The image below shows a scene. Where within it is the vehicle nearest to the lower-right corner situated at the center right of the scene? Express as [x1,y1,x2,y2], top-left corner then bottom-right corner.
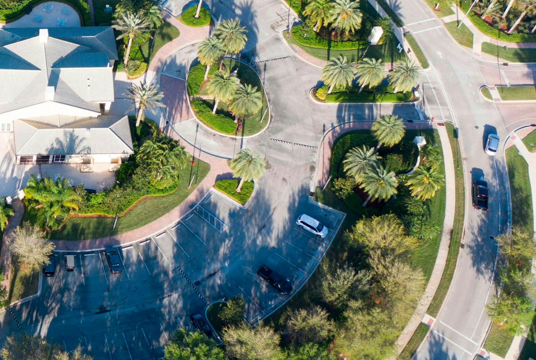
[473,181,489,211]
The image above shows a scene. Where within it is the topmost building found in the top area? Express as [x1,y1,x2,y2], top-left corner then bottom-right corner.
[0,26,134,169]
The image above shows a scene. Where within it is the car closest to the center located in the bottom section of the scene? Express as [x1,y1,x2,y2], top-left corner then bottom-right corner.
[295,213,328,238]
